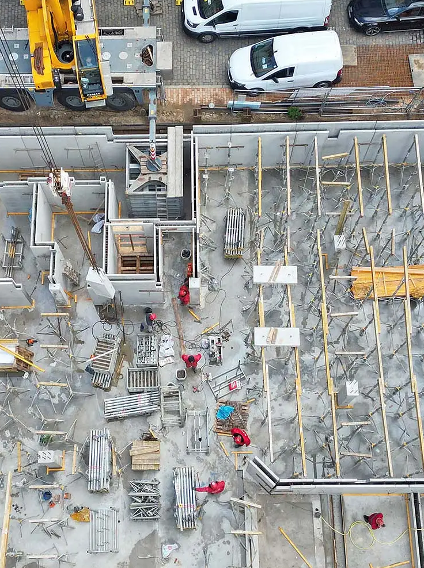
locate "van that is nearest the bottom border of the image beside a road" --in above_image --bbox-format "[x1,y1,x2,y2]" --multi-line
[233,24,346,95]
